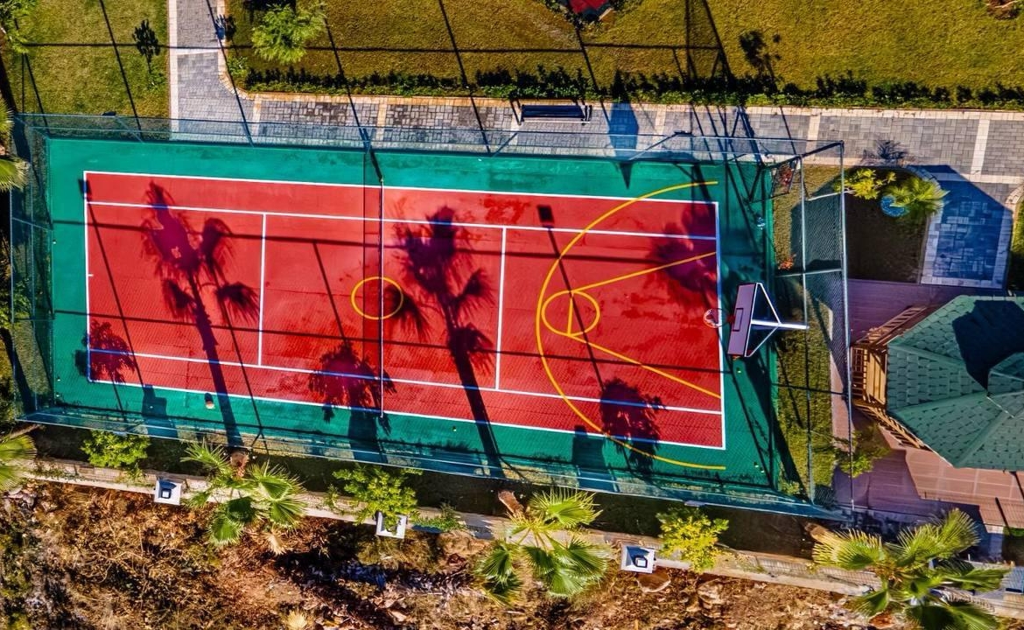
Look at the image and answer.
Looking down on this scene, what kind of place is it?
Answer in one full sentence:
It's a sports ground.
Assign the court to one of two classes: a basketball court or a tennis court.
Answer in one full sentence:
The court in the image is a tennis court.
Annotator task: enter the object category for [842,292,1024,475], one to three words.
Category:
gazebo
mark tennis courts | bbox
[49,141,779,490]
